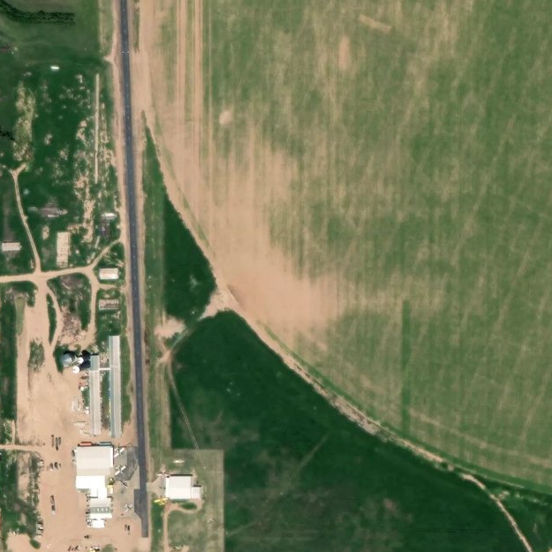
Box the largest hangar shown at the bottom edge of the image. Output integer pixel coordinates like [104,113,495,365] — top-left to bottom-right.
[76,447,114,529]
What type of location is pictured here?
farmland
